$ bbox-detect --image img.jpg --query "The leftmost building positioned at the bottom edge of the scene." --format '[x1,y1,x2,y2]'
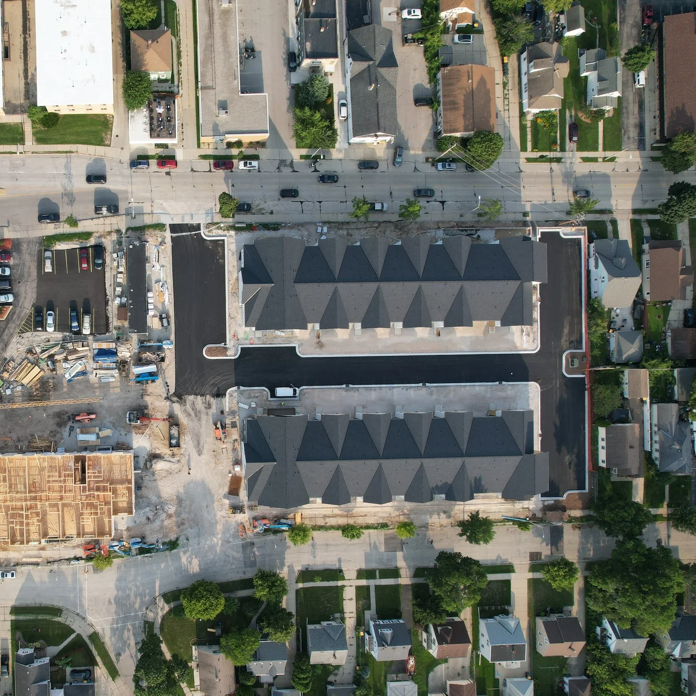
[14,646,51,696]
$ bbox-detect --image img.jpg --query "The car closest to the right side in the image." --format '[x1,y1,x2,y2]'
[682,308,695,328]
